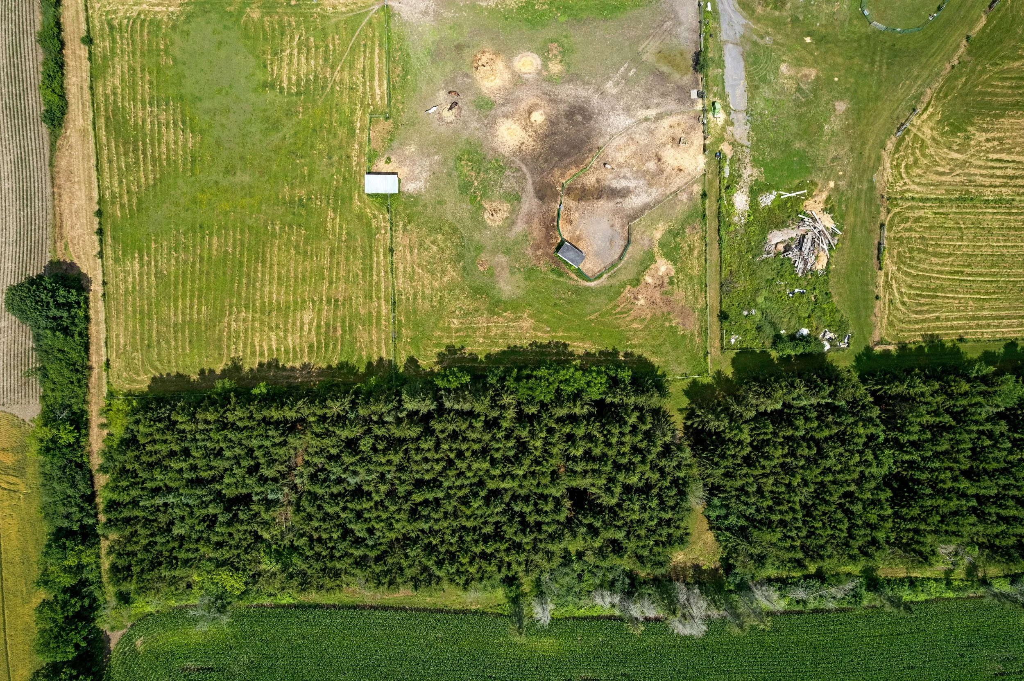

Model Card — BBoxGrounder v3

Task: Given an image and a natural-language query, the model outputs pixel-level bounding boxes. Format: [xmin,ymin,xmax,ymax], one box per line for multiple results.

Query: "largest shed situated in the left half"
[365,174,399,195]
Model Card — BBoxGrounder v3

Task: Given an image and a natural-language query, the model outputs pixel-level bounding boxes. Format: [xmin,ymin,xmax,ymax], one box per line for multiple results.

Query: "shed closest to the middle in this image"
[556,241,586,269]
